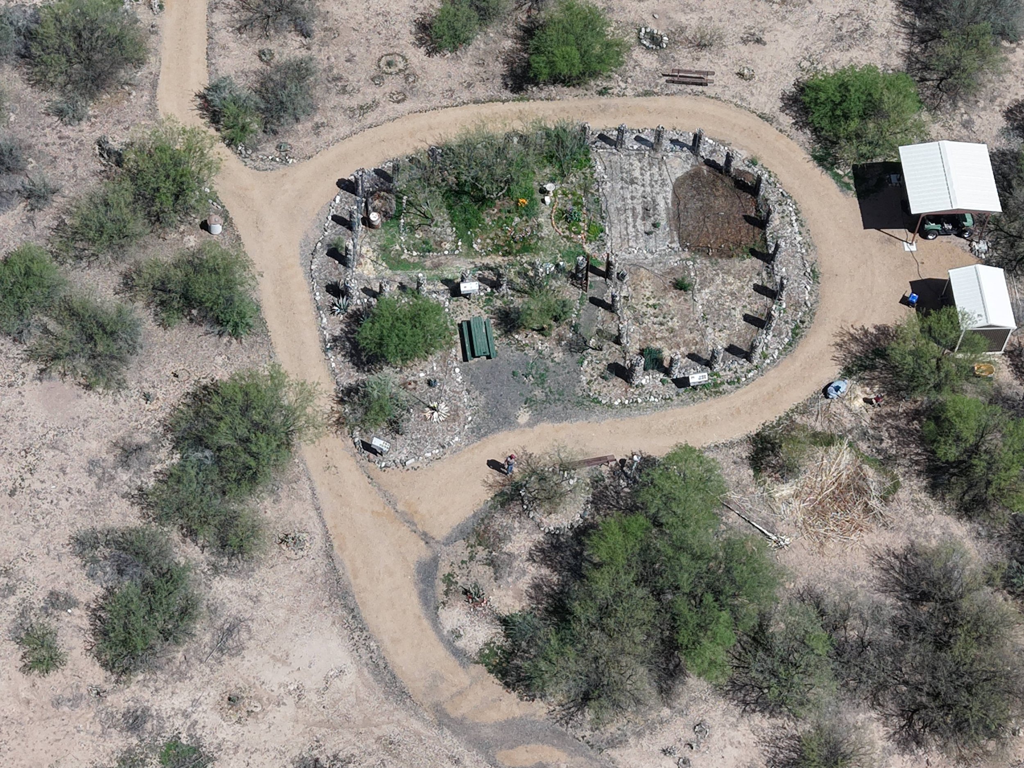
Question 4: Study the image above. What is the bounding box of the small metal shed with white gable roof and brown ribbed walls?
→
[942,264,1017,352]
